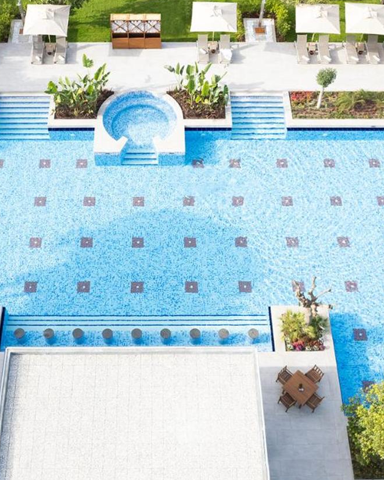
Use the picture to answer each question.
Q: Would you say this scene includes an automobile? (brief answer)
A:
No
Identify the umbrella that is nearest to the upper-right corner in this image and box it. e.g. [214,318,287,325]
[342,5,384,47]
